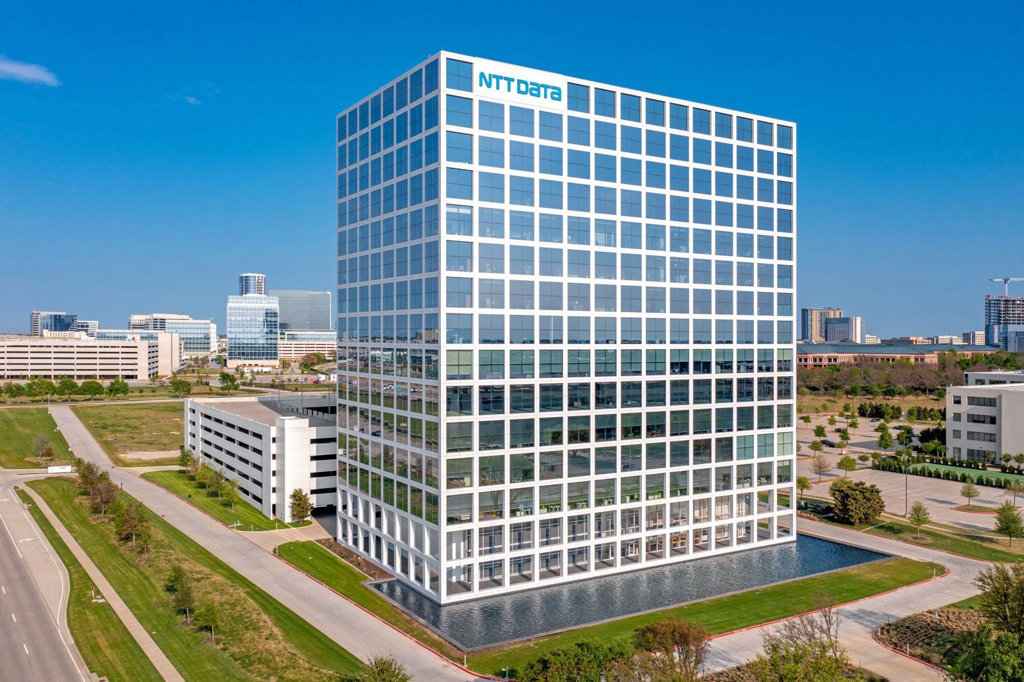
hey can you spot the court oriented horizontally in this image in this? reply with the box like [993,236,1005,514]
[900,462,1024,492]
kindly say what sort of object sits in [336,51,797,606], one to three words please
building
